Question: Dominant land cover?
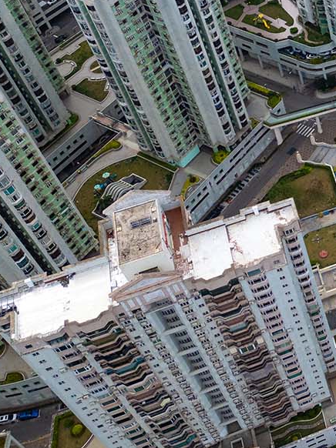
buildings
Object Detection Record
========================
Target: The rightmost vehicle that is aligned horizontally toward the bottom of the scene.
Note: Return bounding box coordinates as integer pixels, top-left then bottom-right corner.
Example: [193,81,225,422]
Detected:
[12,407,41,421]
